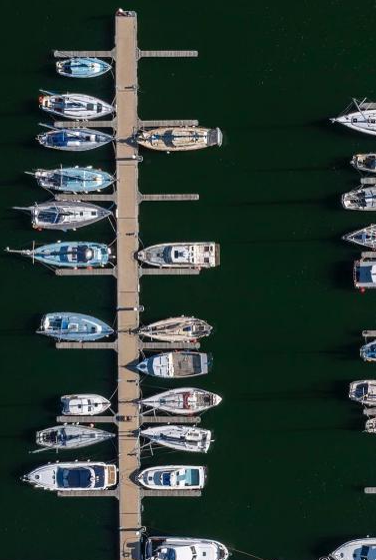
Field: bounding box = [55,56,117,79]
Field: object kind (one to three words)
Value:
boat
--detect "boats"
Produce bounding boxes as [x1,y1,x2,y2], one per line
[131,421,219,465]
[38,313,119,344]
[136,465,213,490]
[26,165,117,198]
[63,391,117,416]
[330,533,376,560]
[8,239,117,273]
[133,349,216,382]
[330,98,376,136]
[349,381,376,411]
[115,314,215,344]
[20,458,121,491]
[361,336,376,362]
[354,260,376,291]
[35,87,117,123]
[112,118,220,153]
[342,182,376,212]
[134,237,224,271]
[21,422,118,461]
[142,531,259,560]
[366,414,376,435]
[341,224,376,254]
[351,153,376,173]
[134,384,224,421]
[55,56,117,79]
[29,123,117,154]
[15,197,117,233]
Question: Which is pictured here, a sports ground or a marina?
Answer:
marina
